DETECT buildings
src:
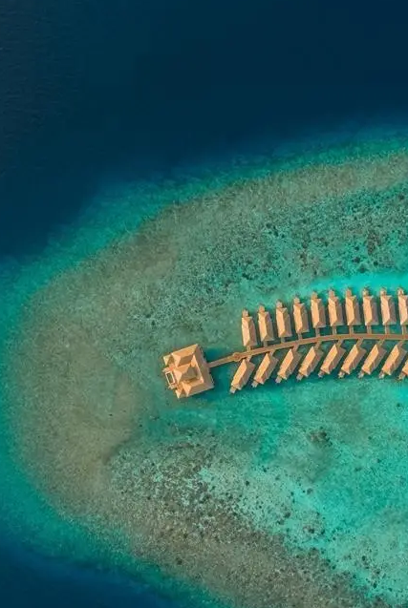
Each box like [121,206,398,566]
[344,288,361,326]
[379,288,396,325]
[275,300,293,338]
[336,344,365,377]
[310,290,326,328]
[293,296,309,334]
[241,309,257,346]
[228,359,256,394]
[295,347,324,381]
[378,345,407,378]
[163,344,214,399]
[327,289,343,326]
[397,288,408,325]
[273,349,302,384]
[251,354,278,387]
[362,288,378,326]
[316,344,345,377]
[257,305,273,342]
[358,344,387,377]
